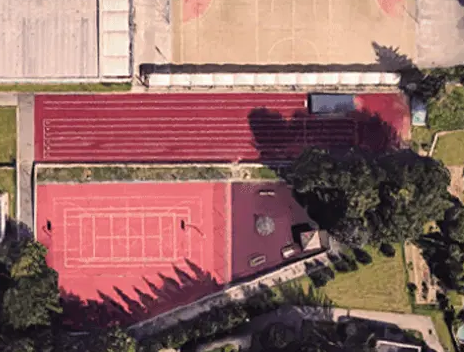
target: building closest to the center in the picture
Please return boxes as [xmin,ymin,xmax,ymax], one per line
[300,230,321,251]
